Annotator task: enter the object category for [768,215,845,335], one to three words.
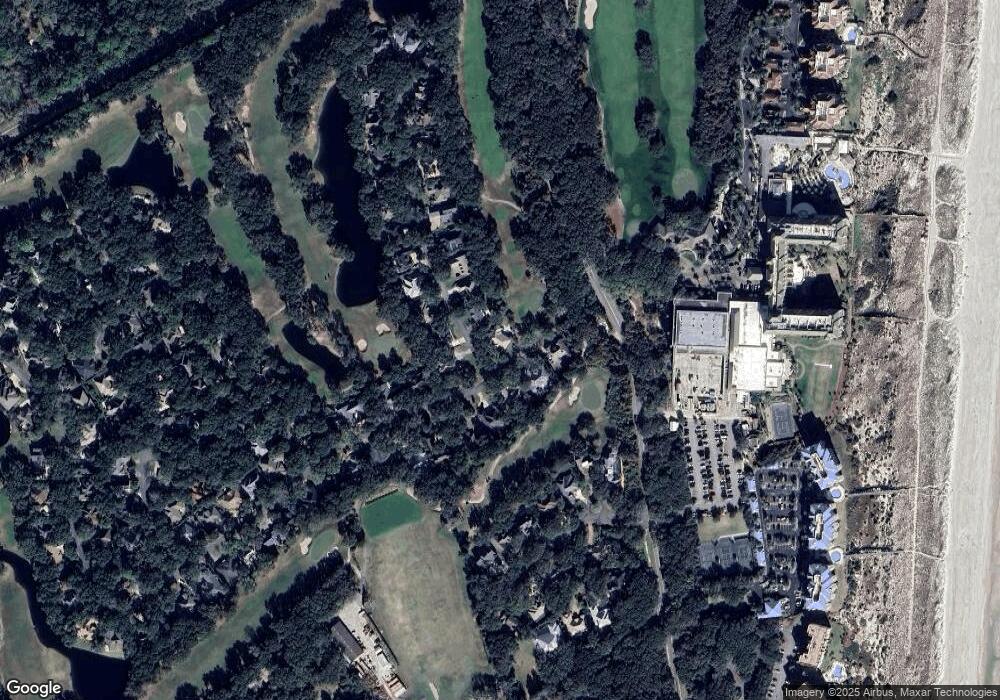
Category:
building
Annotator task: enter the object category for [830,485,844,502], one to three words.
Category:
swimming pool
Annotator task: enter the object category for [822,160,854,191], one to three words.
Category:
swimming pool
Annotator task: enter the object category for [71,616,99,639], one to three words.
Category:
house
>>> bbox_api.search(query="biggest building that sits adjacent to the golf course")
[672,293,783,410]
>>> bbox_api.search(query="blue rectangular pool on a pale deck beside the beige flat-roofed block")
[826,661,847,683]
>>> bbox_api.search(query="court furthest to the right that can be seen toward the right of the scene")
[772,402,795,437]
